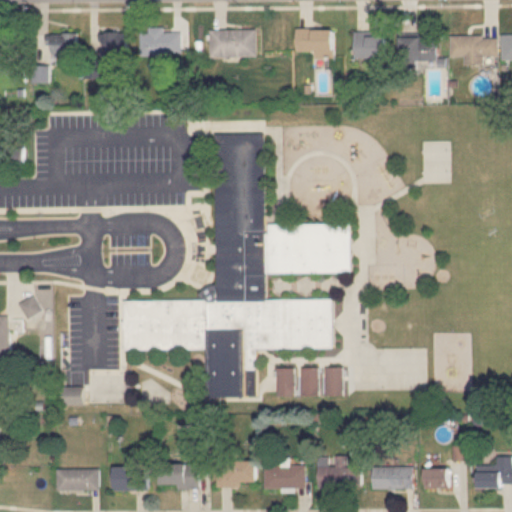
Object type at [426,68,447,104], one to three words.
swimming pool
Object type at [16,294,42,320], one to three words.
building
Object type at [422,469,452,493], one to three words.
house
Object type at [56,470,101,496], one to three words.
house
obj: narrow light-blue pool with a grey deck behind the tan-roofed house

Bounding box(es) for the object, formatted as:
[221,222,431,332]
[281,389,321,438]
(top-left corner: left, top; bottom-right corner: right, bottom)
[315,70,332,97]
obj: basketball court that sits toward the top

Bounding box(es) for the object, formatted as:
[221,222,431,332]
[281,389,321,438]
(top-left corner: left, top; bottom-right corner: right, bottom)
[424,142,452,184]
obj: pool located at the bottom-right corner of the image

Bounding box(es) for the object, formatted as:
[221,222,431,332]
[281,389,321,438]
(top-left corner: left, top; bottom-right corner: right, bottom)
[434,424,454,444]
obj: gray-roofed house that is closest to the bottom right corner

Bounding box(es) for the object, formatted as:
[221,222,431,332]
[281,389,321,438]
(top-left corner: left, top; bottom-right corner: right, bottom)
[474,457,512,490]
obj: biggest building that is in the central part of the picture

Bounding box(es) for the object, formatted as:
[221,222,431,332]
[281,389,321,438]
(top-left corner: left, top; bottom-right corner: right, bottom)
[124,133,352,398]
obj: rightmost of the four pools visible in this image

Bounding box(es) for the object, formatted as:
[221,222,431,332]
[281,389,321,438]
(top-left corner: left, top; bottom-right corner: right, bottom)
[471,74,493,96]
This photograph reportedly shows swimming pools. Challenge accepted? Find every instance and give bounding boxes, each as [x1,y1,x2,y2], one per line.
[471,74,493,96]
[426,68,447,104]
[434,424,454,444]
[315,70,332,97]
